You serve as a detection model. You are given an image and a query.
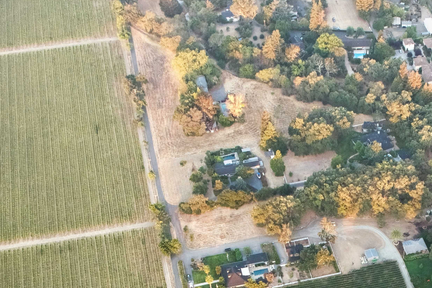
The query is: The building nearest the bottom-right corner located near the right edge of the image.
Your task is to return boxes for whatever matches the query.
[400,238,429,256]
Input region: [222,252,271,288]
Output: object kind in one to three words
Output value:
house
